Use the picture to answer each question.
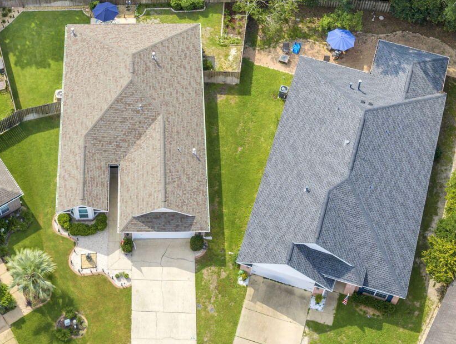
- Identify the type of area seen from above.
residential area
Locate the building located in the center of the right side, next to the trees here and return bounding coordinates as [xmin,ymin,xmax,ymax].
[237,39,450,302]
